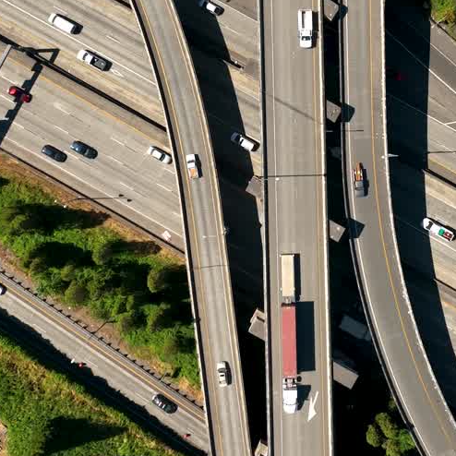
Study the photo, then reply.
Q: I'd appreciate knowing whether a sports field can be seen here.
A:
No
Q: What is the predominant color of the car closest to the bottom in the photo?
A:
black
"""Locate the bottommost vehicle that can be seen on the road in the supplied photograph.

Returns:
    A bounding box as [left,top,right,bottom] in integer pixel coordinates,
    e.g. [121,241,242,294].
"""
[151,393,177,412]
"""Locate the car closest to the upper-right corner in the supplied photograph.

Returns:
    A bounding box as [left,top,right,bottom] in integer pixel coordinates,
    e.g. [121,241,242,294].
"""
[384,65,406,85]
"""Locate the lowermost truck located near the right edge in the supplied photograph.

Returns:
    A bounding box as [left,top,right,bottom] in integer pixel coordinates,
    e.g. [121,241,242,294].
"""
[423,217,455,241]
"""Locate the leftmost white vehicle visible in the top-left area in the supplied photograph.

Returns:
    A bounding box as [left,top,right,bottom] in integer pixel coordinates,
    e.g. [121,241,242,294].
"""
[50,13,80,35]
